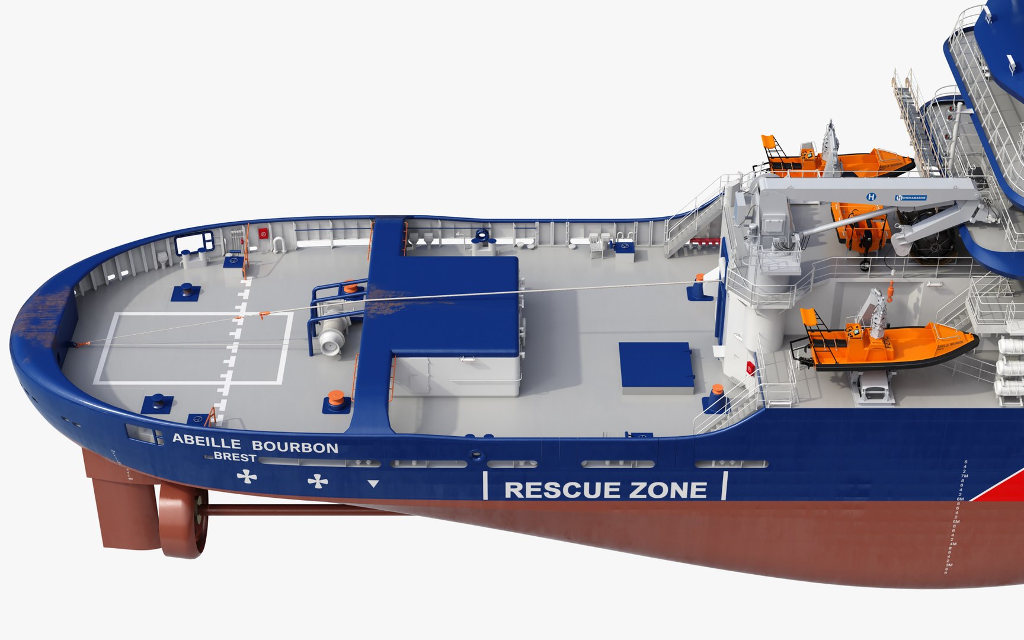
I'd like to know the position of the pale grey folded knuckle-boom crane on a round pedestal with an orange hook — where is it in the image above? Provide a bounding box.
[732,169,1003,355]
